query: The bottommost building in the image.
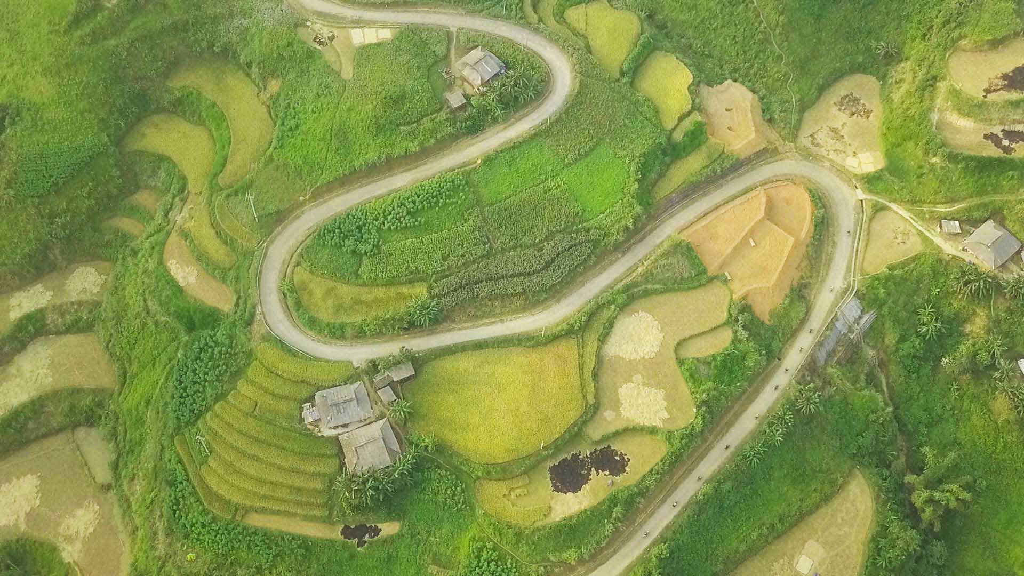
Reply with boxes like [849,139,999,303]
[339,417,401,474]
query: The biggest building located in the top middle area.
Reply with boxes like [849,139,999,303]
[454,46,505,89]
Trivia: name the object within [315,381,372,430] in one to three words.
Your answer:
house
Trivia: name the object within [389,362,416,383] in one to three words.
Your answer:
shed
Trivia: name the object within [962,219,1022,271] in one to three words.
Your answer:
house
